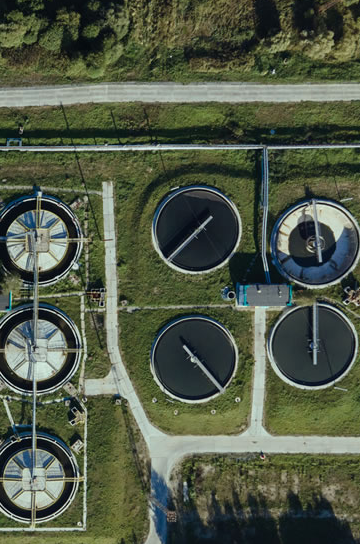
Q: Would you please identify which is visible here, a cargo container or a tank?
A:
tank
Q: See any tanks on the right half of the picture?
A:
Yes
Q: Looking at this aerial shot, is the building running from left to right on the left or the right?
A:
right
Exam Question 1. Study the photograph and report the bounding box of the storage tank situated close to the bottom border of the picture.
[0,432,84,529]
